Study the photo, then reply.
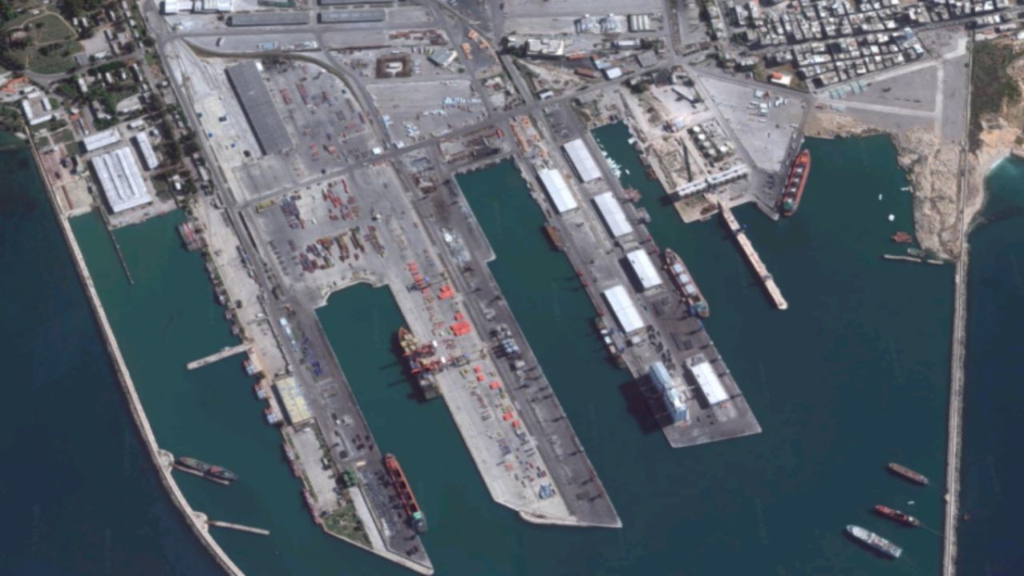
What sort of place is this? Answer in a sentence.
This looks like a port.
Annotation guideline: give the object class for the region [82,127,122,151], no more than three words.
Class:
building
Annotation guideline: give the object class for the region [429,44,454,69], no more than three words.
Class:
building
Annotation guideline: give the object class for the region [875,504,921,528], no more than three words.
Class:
ship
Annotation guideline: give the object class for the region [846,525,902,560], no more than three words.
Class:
ship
